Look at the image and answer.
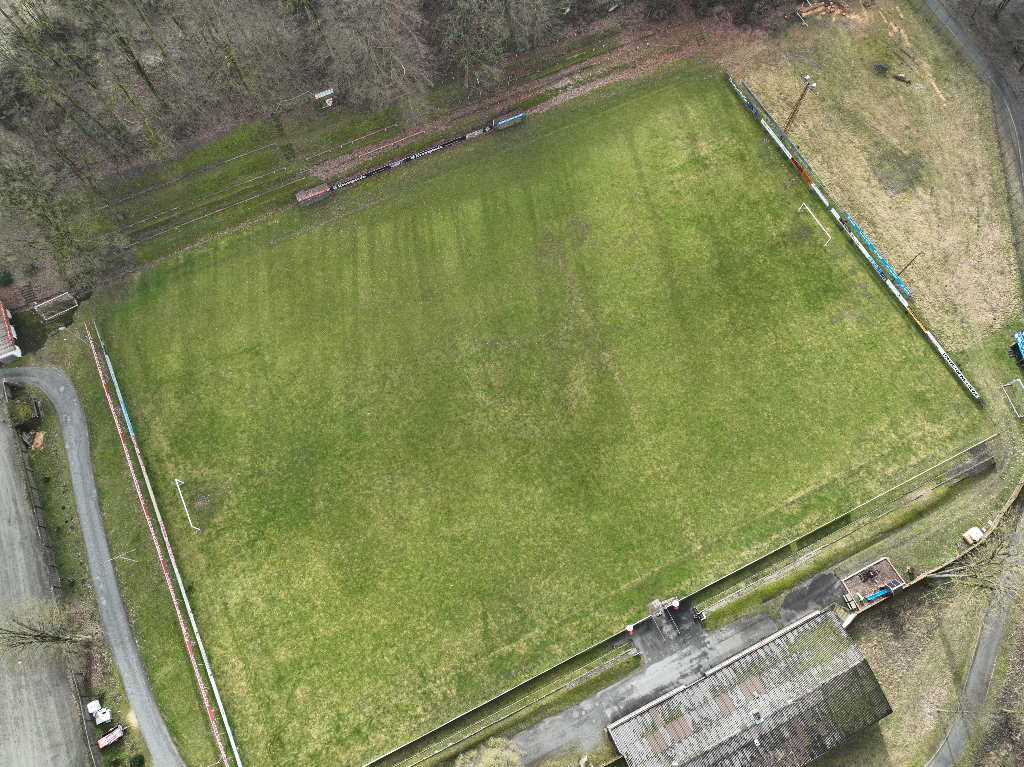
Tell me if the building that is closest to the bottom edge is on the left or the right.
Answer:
right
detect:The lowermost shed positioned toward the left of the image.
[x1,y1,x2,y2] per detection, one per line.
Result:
[10,396,45,429]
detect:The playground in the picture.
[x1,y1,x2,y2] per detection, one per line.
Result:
[839,557,906,611]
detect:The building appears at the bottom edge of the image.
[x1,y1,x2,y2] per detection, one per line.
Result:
[609,609,891,767]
